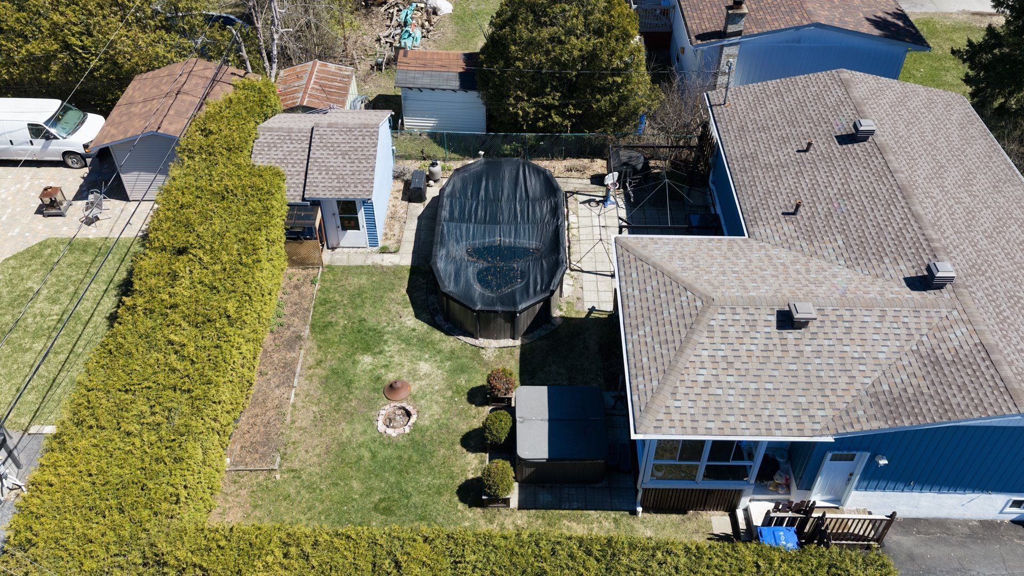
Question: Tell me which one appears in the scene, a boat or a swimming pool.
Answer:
swimming pool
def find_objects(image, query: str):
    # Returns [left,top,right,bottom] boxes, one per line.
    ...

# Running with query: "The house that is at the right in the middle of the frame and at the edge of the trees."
[607,58,1024,522]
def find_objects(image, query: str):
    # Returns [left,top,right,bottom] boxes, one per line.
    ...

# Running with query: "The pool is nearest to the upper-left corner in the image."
[430,157,568,342]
